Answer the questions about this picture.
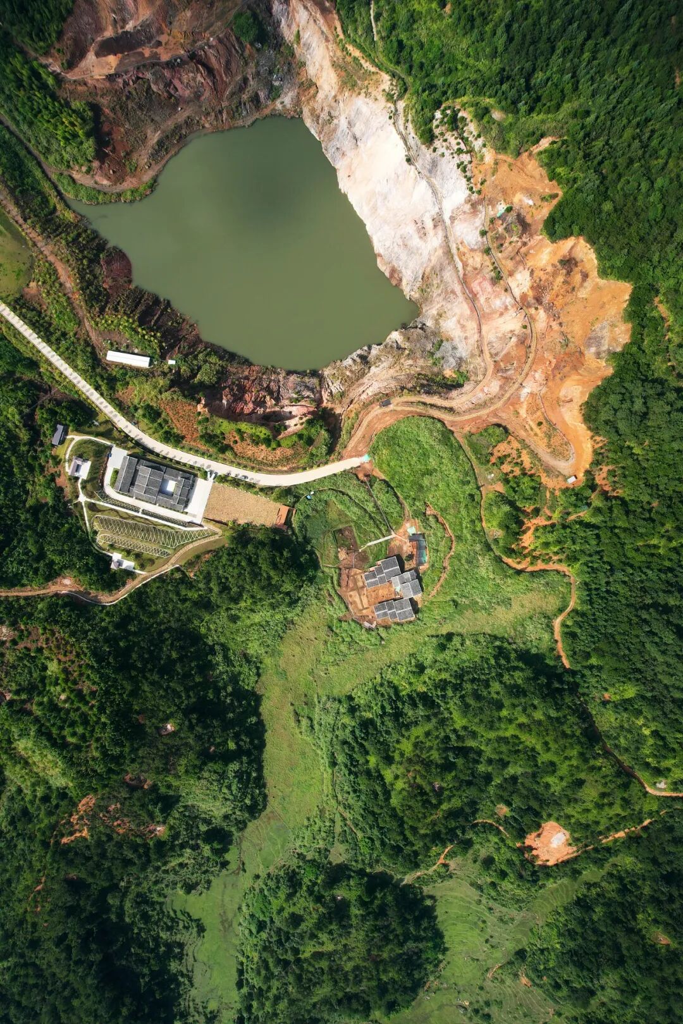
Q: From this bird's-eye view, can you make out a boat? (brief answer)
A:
No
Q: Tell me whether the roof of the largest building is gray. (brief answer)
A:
Yes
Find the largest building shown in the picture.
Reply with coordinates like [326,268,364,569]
[114,456,193,510]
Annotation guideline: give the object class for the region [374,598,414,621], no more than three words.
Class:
house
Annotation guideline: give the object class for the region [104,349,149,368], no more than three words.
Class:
shed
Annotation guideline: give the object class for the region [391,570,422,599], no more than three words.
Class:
house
